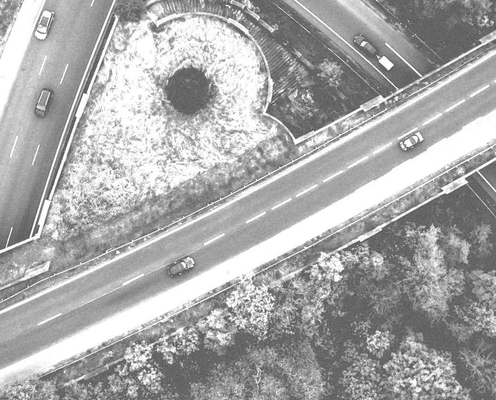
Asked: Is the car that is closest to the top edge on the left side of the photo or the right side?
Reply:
left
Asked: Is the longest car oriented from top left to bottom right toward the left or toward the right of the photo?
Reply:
right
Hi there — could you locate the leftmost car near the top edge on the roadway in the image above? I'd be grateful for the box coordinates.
[34,8,56,42]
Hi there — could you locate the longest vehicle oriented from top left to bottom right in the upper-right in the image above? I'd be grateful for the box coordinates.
[351,34,379,59]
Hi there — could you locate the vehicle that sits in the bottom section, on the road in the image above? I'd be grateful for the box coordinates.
[165,255,198,280]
